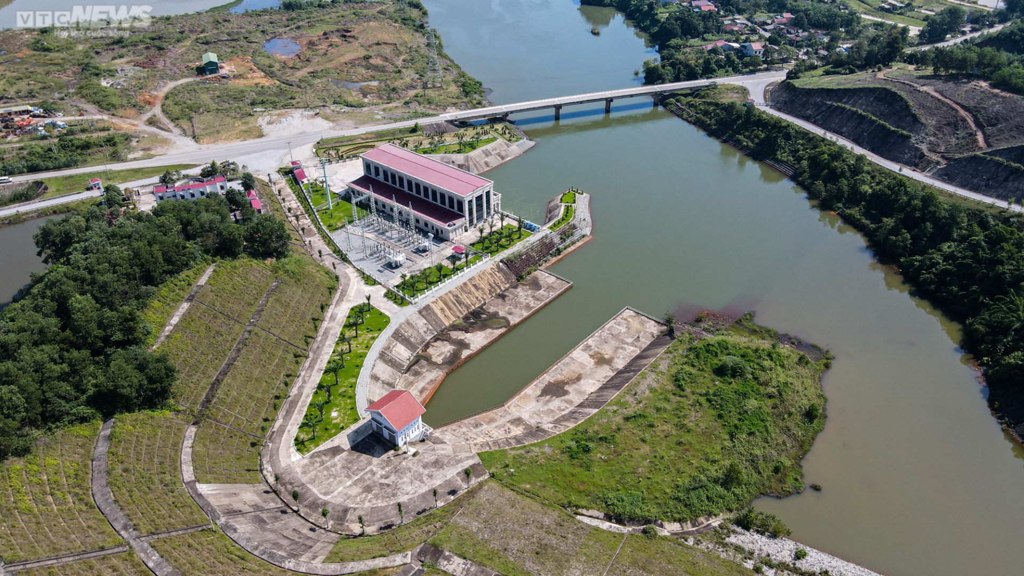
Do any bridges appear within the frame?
Yes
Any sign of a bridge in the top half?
Yes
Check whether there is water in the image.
Yes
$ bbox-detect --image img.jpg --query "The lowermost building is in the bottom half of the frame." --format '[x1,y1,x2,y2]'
[364,390,436,447]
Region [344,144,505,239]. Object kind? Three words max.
building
